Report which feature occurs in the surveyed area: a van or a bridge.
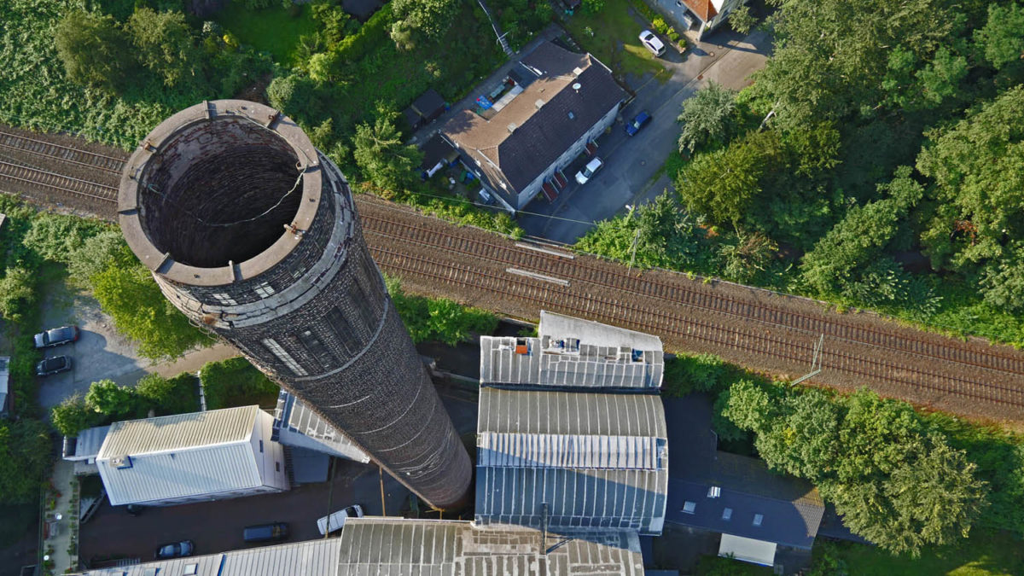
van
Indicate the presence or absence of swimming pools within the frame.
No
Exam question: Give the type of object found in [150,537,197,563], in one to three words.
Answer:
car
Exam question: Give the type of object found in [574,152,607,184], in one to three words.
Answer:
car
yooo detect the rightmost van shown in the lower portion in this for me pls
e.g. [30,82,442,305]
[311,500,366,536]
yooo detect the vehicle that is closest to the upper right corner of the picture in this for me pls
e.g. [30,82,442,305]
[640,26,671,57]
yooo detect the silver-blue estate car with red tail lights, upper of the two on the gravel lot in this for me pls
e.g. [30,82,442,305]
[33,321,78,349]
